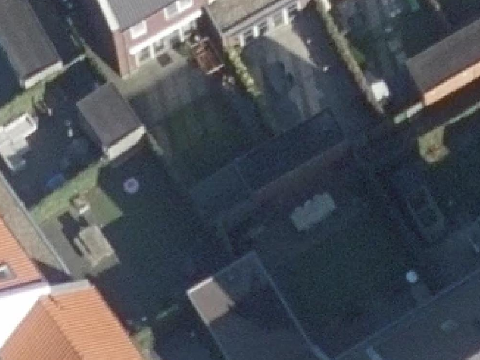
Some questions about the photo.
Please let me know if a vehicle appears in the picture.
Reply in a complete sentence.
No, the photo shows no vehicle.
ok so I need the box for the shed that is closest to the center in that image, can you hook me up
[235,108,346,210]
